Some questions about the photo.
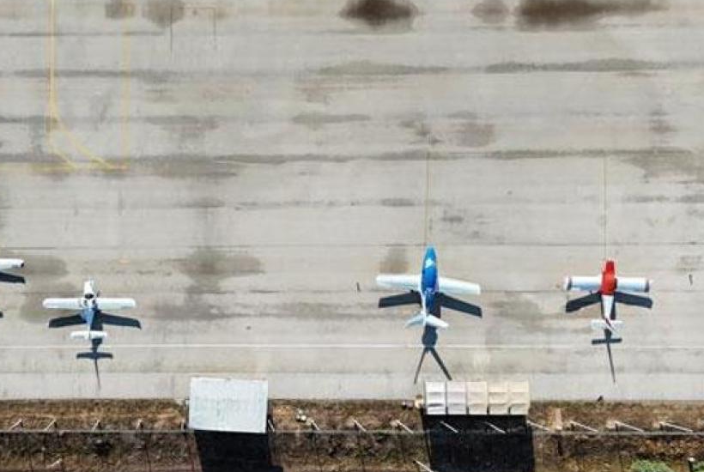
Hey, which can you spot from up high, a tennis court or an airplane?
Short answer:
airplane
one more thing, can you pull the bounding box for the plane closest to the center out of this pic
[378,247,481,330]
